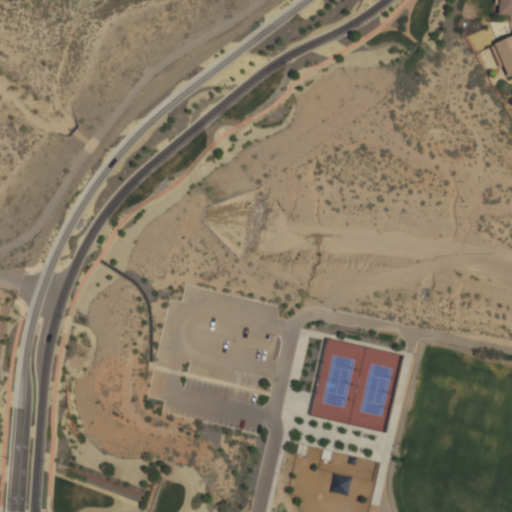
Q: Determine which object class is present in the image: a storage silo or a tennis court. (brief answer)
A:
tennis court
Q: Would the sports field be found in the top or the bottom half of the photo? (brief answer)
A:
bottom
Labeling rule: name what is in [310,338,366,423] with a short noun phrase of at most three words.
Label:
tennis court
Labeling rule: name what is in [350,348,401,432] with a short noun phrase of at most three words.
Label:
tennis court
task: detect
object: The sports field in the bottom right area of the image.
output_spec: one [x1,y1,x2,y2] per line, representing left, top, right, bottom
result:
[394,346,512,512]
